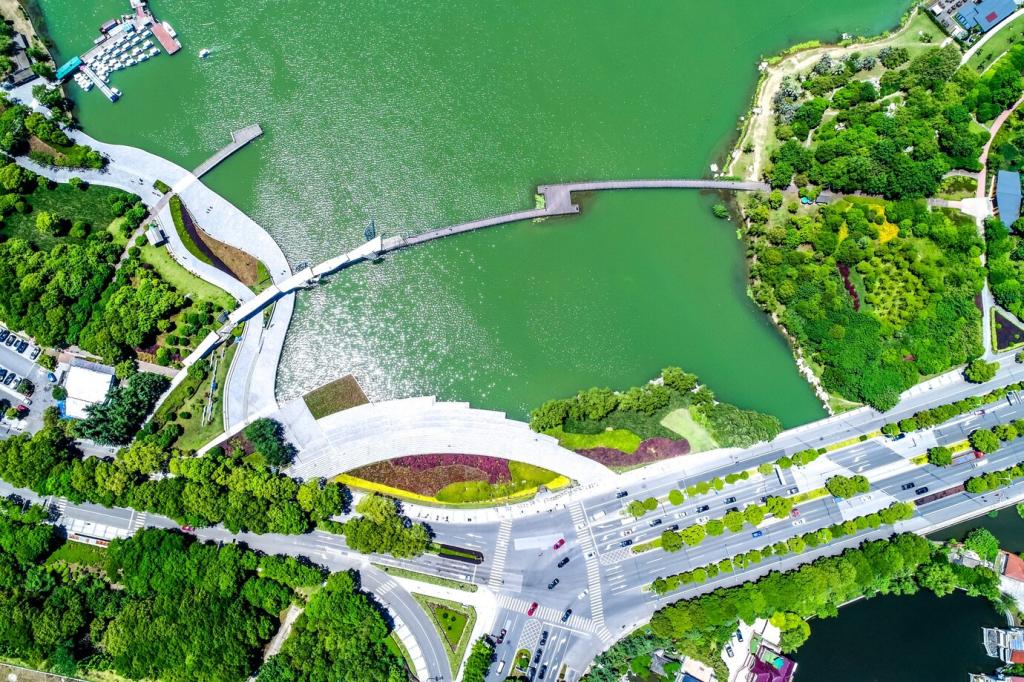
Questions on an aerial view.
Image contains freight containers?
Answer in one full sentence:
No, there is no freight container in the image.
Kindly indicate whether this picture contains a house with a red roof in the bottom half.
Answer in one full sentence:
Yes, the scene does show a house with a red roof in the bottom half.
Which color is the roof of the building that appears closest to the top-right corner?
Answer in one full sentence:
The color of the roof on the building that appears closest to the top-right corner is blue.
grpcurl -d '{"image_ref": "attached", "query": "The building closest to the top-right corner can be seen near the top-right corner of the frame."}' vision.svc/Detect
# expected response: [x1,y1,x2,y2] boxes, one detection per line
[968,0,1018,38]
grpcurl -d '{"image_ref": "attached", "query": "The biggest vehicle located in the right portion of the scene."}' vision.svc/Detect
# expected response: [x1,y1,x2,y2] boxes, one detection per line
[953,453,984,467]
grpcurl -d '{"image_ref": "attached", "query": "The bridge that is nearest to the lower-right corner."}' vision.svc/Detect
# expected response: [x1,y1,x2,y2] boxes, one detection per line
[784,404,1024,536]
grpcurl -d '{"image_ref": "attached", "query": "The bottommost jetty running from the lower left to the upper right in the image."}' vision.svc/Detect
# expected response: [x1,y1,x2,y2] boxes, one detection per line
[191,123,263,178]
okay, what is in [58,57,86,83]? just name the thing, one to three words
building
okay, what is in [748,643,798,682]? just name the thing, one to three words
house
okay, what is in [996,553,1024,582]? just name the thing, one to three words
house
